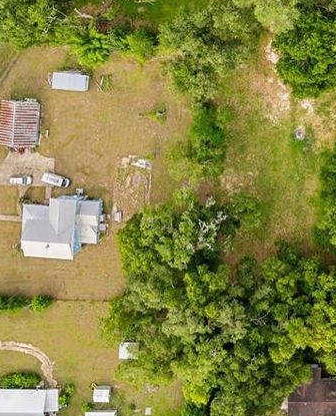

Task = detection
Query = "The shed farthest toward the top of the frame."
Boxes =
[51,71,93,91]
